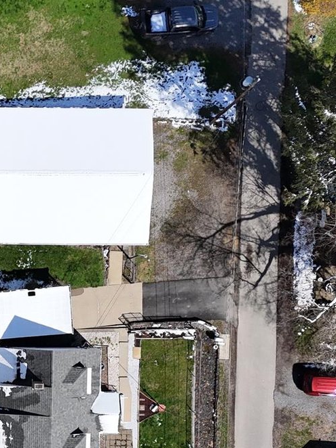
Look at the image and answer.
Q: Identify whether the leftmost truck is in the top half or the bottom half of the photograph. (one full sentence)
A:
The leftmost truck is in the top half of the image.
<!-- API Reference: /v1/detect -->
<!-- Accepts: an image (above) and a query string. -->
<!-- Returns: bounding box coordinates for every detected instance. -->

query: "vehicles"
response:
[299,373,336,399]
[138,1,219,38]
